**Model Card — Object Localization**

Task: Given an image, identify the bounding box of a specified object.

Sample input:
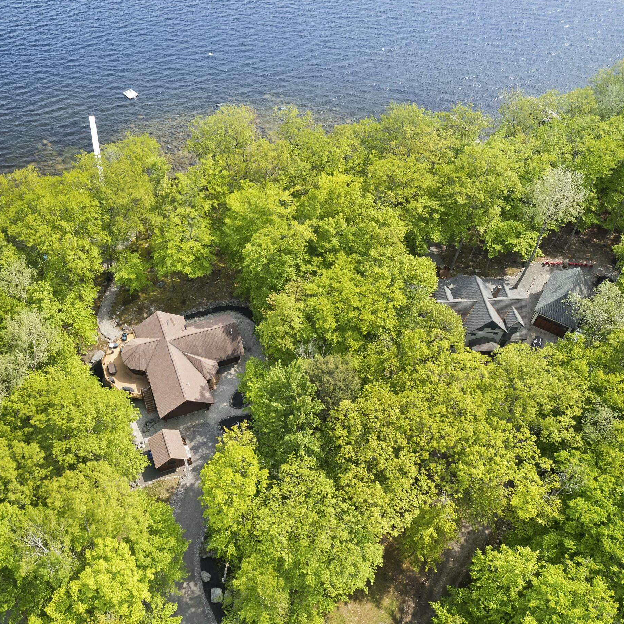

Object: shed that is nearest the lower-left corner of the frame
[147,429,192,475]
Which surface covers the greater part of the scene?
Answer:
trees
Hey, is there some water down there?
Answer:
Yes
